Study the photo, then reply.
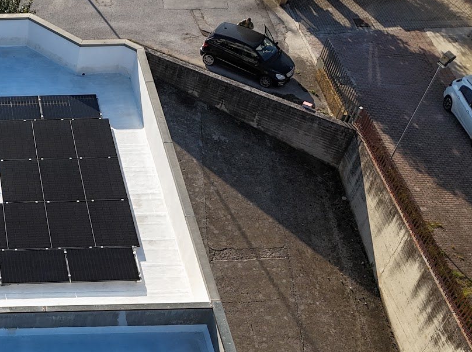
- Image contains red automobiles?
No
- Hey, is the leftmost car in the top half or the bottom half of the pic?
top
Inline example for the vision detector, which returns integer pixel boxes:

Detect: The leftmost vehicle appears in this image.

[197,20,297,89]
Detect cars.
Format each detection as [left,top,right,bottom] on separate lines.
[445,80,472,137]
[197,20,297,89]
